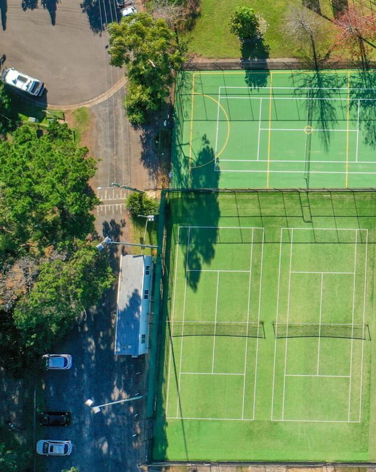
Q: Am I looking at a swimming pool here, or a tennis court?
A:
tennis court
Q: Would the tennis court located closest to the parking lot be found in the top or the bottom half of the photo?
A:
bottom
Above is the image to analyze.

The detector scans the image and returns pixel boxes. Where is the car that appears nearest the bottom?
[33,439,71,459]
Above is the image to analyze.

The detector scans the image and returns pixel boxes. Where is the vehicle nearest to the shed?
[44,353,73,371]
